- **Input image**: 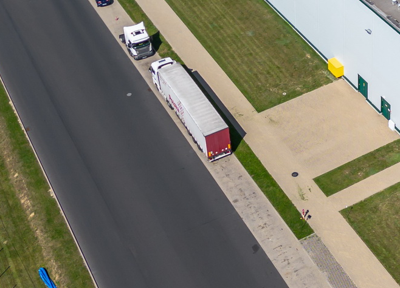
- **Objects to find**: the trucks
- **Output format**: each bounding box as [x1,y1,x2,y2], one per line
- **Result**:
[119,15,154,57]
[145,47,233,158]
